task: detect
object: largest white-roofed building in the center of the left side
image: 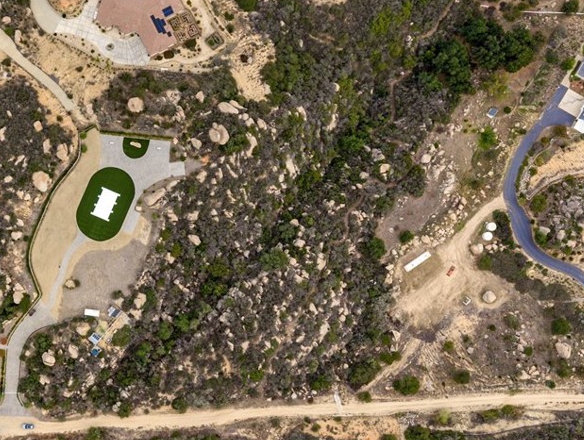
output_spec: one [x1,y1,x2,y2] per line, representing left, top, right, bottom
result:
[91,187,120,222]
